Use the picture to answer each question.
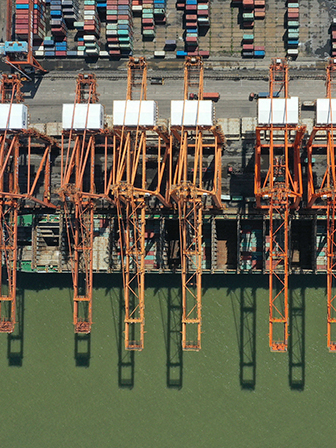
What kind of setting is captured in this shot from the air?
port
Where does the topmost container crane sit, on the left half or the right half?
left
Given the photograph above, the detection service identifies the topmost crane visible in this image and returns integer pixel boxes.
[0,0,55,74]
